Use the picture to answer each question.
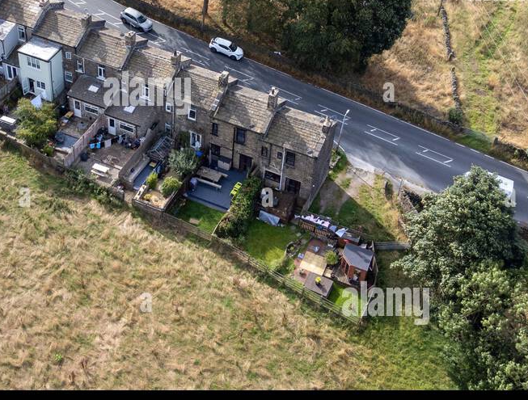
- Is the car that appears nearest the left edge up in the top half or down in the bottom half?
top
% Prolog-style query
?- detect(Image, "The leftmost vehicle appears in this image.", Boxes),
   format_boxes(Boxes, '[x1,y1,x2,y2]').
[122,7,155,33]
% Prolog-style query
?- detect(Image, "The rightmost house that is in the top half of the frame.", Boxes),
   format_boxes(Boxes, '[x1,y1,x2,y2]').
[259,105,339,205]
